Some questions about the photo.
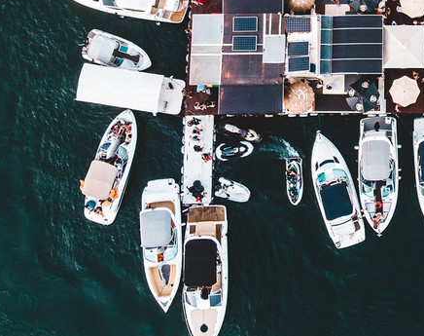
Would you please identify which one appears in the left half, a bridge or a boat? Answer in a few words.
boat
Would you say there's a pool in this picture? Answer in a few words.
No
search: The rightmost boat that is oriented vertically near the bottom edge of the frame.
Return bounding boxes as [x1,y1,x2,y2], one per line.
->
[182,203,231,336]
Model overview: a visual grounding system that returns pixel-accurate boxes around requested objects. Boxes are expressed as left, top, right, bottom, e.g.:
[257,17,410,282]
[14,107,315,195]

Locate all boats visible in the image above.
[215,140,255,159]
[76,32,152,71]
[219,121,262,143]
[415,116,424,210]
[354,116,402,234]
[182,203,231,336]
[215,179,249,202]
[141,177,187,312]
[285,156,305,206]
[76,0,188,25]
[76,63,188,113]
[313,129,367,246]
[83,109,140,223]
